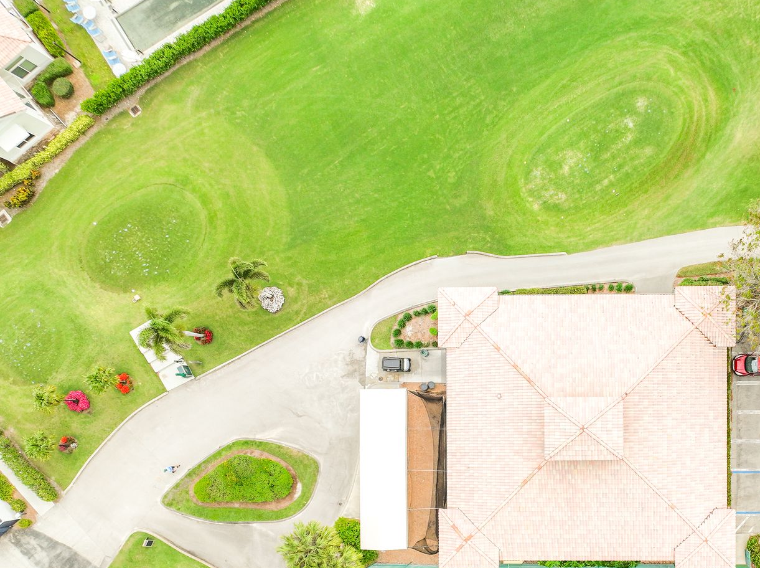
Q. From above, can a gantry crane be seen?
No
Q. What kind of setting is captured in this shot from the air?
golf course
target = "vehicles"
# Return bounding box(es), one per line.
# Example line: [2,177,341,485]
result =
[377,355,410,373]
[733,351,760,377]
